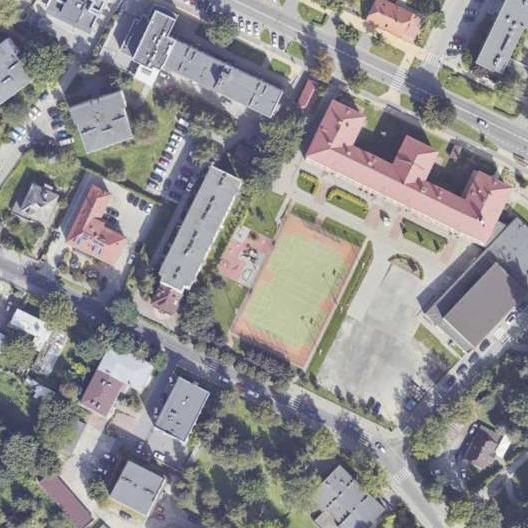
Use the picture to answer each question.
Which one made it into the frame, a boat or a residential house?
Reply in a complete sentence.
Of the two, only a residential house appears.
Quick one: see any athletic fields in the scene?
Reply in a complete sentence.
Yes, looking at the shot, I can spot an athletic field.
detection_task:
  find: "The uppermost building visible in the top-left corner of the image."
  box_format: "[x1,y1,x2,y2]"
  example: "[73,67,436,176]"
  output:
[45,0,110,35]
